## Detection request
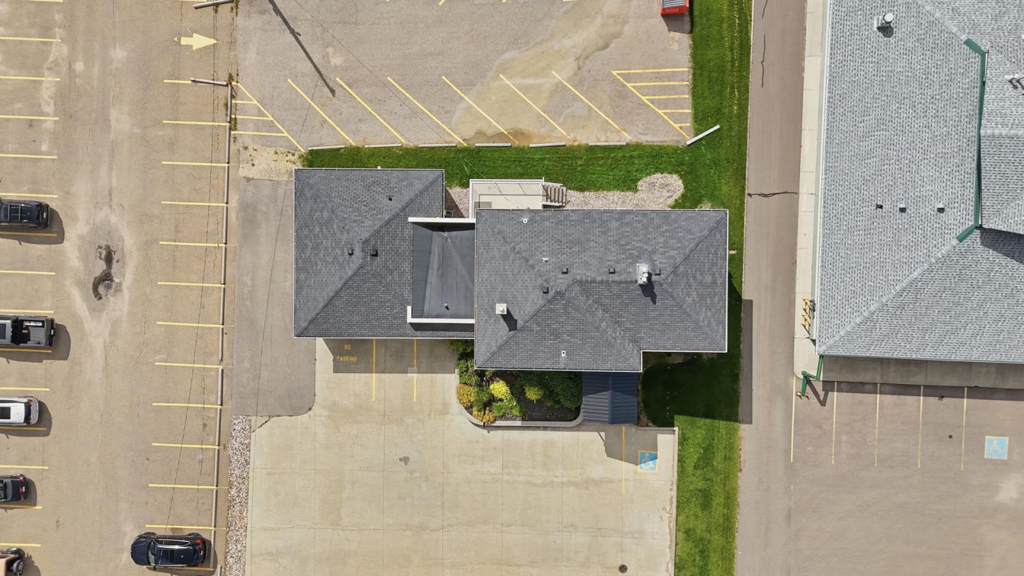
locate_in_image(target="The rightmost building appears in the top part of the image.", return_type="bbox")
[813,0,1024,363]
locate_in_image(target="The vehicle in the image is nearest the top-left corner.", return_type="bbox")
[0,200,51,229]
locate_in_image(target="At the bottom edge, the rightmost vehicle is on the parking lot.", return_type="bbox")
[133,532,208,570]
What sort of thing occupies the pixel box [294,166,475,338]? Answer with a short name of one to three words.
building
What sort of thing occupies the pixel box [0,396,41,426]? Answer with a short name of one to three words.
car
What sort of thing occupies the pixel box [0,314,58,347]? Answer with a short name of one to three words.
truck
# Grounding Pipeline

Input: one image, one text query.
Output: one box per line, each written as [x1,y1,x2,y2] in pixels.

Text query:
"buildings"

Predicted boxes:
[813,0,1024,363]
[294,166,475,338]
[475,209,728,371]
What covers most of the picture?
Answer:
paved ground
